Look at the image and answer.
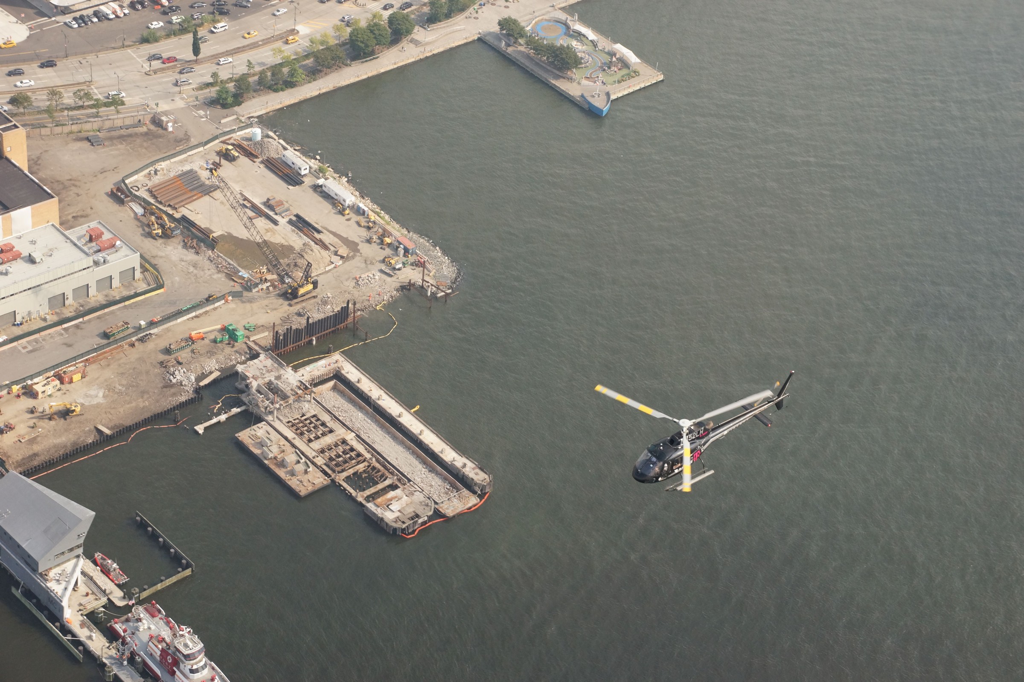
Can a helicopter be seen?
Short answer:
Yes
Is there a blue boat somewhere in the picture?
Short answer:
No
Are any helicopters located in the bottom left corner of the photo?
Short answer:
No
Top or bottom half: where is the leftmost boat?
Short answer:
bottom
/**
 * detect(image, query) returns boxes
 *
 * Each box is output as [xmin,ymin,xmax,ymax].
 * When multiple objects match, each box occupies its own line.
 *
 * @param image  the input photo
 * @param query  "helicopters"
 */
[596,368,798,494]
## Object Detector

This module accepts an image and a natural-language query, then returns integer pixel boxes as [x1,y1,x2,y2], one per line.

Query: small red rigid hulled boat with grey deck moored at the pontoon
[95,553,129,587]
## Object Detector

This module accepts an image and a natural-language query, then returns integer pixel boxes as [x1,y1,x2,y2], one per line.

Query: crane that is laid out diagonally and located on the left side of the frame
[209,166,324,303]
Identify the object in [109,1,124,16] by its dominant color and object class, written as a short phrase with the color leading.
white vehicle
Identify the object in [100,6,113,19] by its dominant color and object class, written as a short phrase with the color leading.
white vehicle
